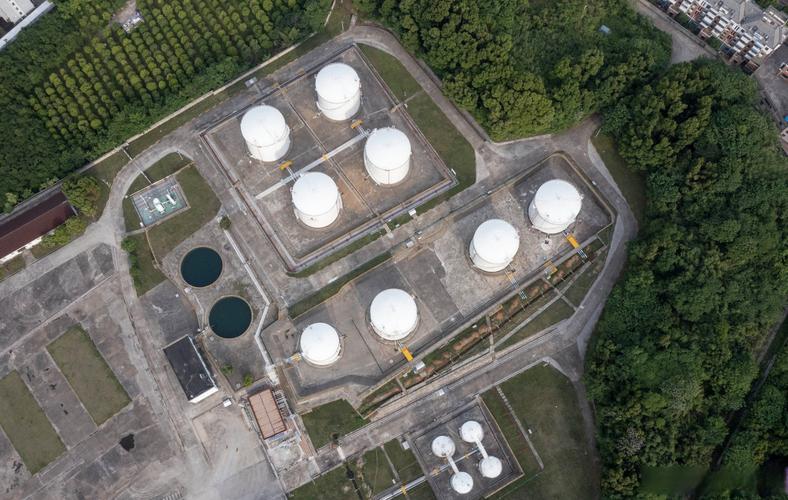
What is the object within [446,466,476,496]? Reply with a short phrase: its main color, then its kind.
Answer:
white storage tank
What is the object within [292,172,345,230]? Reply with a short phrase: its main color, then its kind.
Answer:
white storage tank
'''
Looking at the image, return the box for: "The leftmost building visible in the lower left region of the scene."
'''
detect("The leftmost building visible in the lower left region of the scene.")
[162,335,218,405]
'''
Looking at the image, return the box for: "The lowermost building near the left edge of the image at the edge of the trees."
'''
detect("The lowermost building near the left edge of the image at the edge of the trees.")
[0,193,79,262]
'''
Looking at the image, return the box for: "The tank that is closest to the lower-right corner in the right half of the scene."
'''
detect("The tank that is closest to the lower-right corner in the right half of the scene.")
[474,451,504,482]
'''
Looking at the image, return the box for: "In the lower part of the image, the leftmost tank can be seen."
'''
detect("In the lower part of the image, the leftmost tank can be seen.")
[299,321,347,369]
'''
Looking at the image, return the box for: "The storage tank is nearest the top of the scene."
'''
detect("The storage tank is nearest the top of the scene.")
[316,63,365,122]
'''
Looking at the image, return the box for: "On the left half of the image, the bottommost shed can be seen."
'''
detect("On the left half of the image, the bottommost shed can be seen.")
[247,388,287,440]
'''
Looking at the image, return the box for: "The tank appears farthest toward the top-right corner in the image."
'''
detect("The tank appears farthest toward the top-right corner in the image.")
[523,180,582,238]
